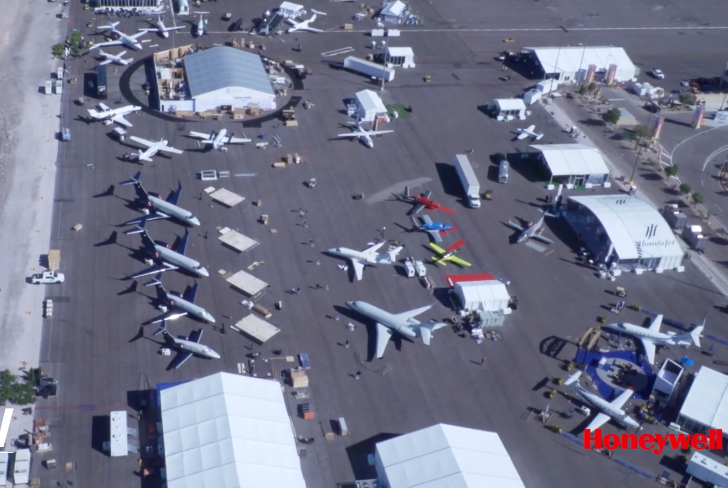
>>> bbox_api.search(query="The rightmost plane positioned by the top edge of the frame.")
[287,6,327,33]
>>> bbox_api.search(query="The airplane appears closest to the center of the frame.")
[325,239,410,283]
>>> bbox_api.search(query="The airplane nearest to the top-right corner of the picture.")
[515,113,557,134]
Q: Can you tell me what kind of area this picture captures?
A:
airport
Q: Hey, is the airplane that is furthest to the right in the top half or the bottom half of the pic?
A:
bottom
